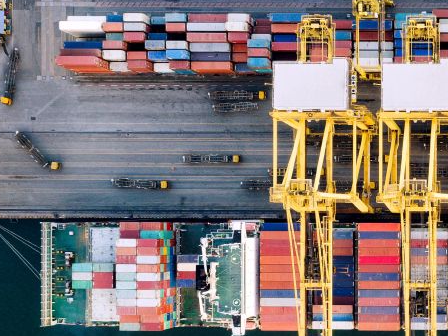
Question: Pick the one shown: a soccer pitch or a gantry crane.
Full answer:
There is a gantry crane in the scene.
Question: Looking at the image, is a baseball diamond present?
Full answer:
No, there isn't any baseball diamond down there.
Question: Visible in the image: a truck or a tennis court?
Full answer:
Visible in the photo is a truck.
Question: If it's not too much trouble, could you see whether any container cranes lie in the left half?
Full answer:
No, no container crane is visible in the left half.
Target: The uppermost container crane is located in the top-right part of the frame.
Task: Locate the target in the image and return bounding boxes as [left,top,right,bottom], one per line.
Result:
[352,0,398,81]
